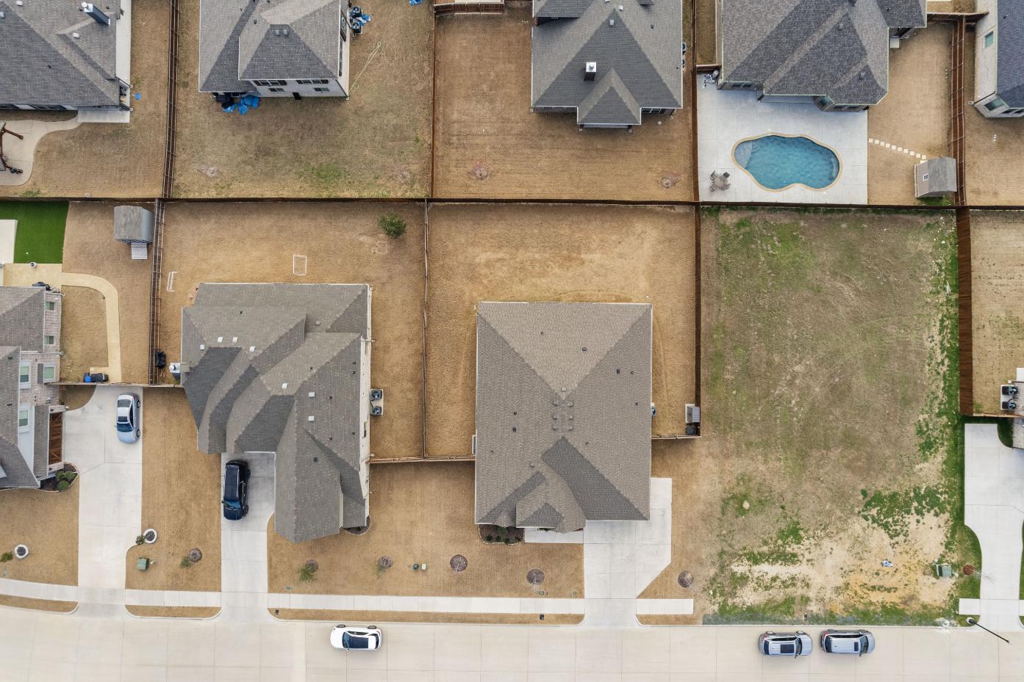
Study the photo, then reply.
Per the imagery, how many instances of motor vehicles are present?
five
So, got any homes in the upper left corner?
Yes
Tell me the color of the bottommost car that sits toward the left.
white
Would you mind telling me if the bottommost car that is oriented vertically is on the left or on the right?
left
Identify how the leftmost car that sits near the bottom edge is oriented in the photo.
from left to right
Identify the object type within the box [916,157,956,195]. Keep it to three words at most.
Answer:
shed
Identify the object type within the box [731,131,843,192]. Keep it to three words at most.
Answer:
swimming pool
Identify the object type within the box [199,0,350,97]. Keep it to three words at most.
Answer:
house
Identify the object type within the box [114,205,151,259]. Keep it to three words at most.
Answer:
shed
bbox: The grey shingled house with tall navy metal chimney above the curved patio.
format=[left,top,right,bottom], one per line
[0,0,132,111]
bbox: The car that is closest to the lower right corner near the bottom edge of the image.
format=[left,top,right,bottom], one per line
[819,629,873,657]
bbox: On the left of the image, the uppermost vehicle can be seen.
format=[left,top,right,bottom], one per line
[113,394,140,445]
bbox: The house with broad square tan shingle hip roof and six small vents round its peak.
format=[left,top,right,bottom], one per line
[475,301,653,533]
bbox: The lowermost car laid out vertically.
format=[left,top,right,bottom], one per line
[222,460,250,519]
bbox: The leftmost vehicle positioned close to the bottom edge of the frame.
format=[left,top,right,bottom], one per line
[332,625,383,650]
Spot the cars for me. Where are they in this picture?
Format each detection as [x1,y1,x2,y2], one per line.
[222,460,250,519]
[759,631,811,658]
[819,629,873,657]
[332,625,383,650]
[113,394,140,445]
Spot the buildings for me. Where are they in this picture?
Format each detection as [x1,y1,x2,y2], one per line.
[475,301,653,533]
[168,282,374,543]
[0,286,67,488]
[0,0,132,111]
[916,157,956,195]
[717,0,927,111]
[974,0,1024,117]
[530,0,683,132]
[199,0,350,97]
[114,205,151,259]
